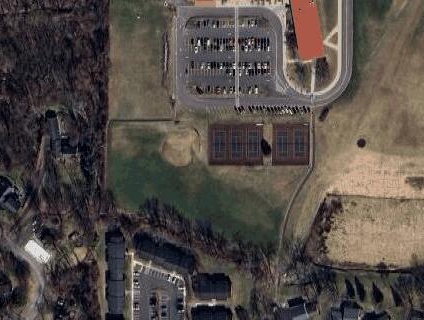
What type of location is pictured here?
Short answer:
sports ground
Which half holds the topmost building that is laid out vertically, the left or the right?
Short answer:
right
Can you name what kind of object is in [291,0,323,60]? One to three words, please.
building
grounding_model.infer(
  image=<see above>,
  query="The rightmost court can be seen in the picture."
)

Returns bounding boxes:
[291,124,309,165]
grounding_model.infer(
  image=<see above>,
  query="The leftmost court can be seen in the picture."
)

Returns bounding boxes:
[209,124,228,165]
